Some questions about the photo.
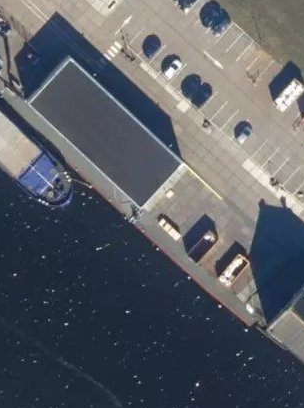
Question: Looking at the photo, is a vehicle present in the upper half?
Yes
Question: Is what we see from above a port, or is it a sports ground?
port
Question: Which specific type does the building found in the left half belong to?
warehouse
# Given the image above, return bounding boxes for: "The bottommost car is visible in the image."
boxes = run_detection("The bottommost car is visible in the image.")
[234,123,255,145]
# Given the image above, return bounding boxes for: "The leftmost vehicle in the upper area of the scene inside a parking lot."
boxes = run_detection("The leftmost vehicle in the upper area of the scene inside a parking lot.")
[141,40,160,60]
